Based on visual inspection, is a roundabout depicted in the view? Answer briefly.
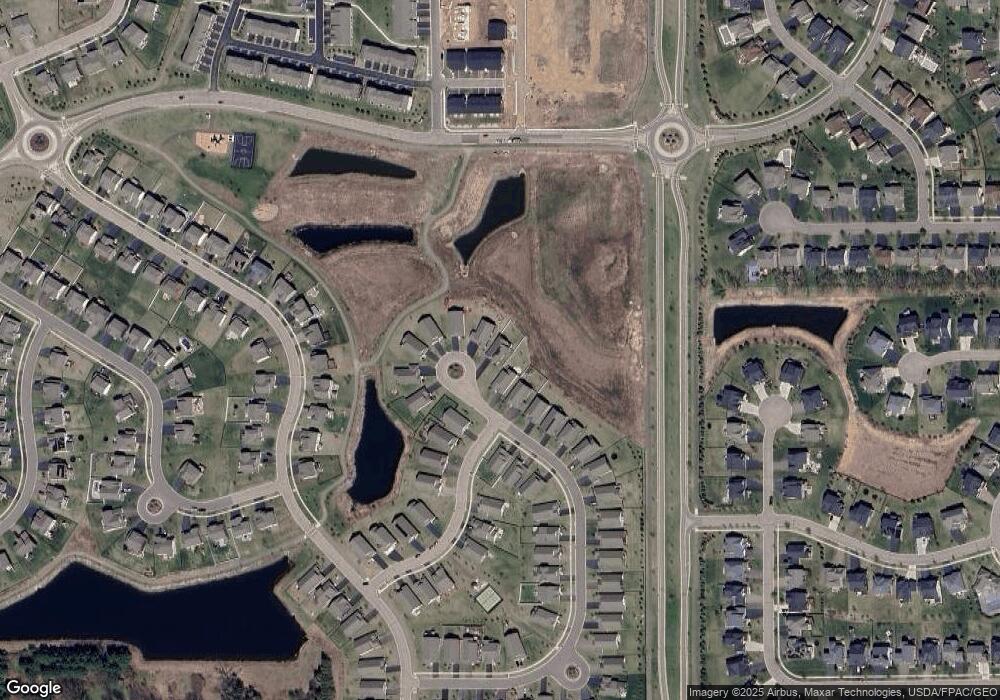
Yes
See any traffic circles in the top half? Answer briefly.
Yes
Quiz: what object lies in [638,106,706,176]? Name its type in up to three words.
roundabout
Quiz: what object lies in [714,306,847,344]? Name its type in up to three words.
pond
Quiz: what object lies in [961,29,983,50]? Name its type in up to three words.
house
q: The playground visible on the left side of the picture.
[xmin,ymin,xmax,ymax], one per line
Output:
[194,131,233,153]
